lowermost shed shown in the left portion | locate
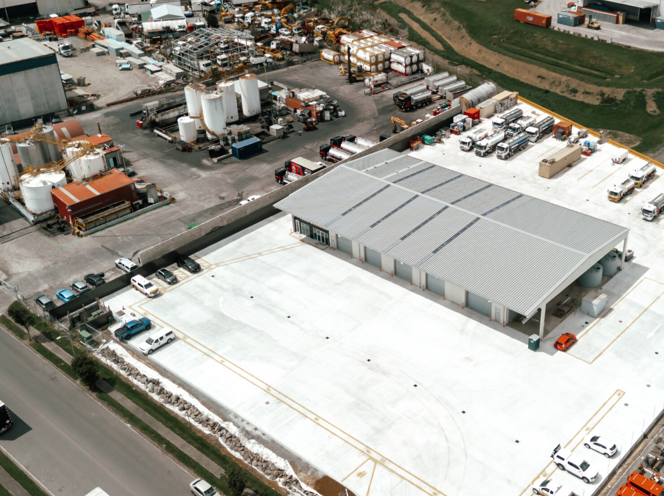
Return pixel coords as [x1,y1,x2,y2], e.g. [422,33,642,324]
[49,171,139,230]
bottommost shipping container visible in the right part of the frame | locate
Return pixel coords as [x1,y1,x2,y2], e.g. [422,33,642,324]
[538,143,581,177]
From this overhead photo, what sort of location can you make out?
industrial area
